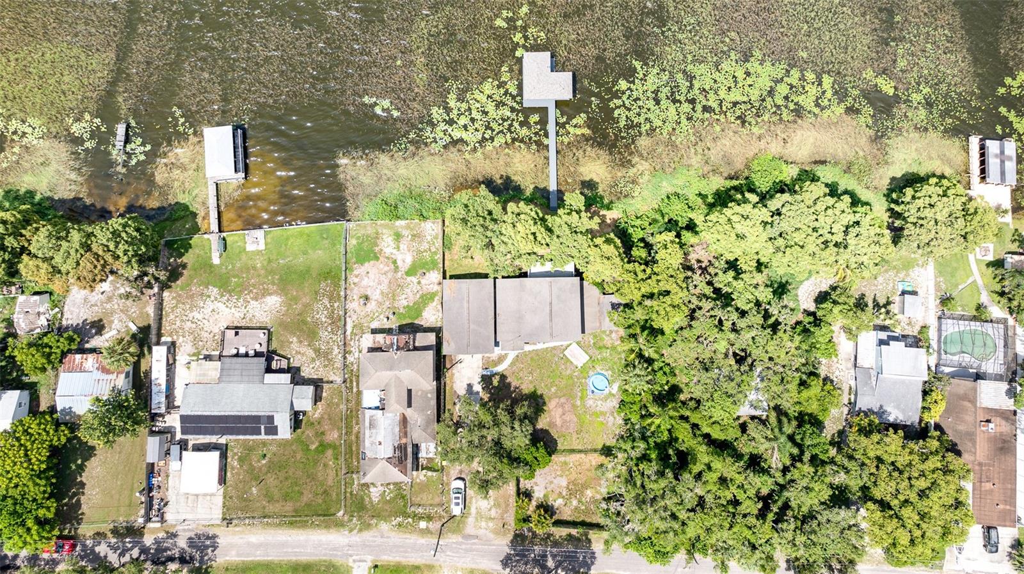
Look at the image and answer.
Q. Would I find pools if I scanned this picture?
Yes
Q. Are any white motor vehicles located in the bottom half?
Yes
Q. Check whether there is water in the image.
Yes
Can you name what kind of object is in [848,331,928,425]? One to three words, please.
house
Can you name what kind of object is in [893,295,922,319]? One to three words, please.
shed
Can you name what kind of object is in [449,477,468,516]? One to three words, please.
car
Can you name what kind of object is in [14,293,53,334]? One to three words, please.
shed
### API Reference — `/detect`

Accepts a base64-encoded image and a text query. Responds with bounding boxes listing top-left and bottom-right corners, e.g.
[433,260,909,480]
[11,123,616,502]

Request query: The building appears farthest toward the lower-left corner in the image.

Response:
[0,387,39,432]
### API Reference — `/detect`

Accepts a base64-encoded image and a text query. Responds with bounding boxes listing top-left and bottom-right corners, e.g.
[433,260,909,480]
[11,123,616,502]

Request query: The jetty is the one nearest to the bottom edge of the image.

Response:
[207,182,223,231]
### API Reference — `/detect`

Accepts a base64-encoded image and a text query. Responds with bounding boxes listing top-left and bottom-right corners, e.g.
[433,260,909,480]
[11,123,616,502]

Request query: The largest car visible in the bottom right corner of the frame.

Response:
[979,524,1002,554]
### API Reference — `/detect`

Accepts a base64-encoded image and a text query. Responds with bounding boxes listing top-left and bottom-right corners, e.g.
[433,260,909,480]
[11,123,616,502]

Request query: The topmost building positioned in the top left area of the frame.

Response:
[204,125,252,182]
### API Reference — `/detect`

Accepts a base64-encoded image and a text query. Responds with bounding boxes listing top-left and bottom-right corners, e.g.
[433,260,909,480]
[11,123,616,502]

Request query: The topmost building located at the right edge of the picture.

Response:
[962,135,1016,189]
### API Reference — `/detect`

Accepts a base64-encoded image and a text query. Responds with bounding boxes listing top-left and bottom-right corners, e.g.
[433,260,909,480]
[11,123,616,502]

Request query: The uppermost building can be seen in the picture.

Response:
[523,45,573,107]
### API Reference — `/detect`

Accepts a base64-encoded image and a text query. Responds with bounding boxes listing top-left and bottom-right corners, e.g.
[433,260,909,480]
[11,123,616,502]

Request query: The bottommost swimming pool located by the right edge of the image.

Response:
[939,327,996,362]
